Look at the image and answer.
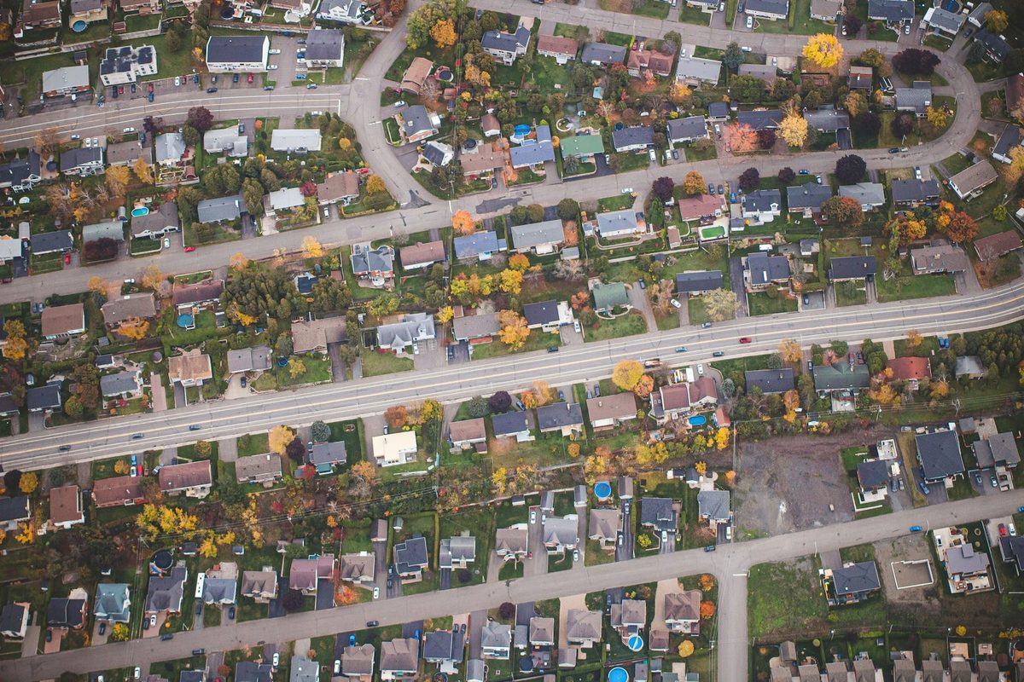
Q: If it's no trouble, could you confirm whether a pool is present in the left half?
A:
Yes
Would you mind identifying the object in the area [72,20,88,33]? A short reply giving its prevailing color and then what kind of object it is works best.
blue swimming pool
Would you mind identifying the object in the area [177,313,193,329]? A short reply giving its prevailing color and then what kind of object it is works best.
blue swimming pool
